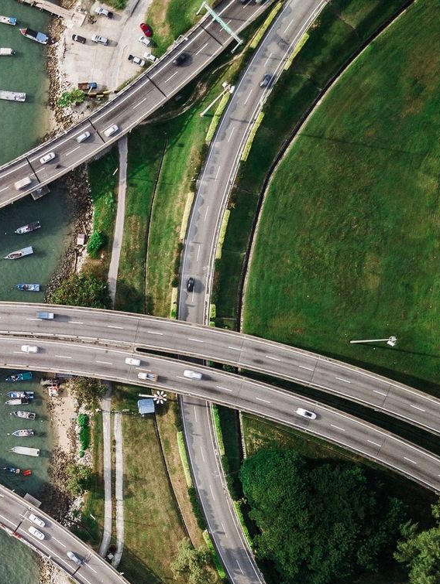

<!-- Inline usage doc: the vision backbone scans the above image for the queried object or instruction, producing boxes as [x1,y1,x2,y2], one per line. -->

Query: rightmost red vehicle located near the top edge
[140,21,153,36]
